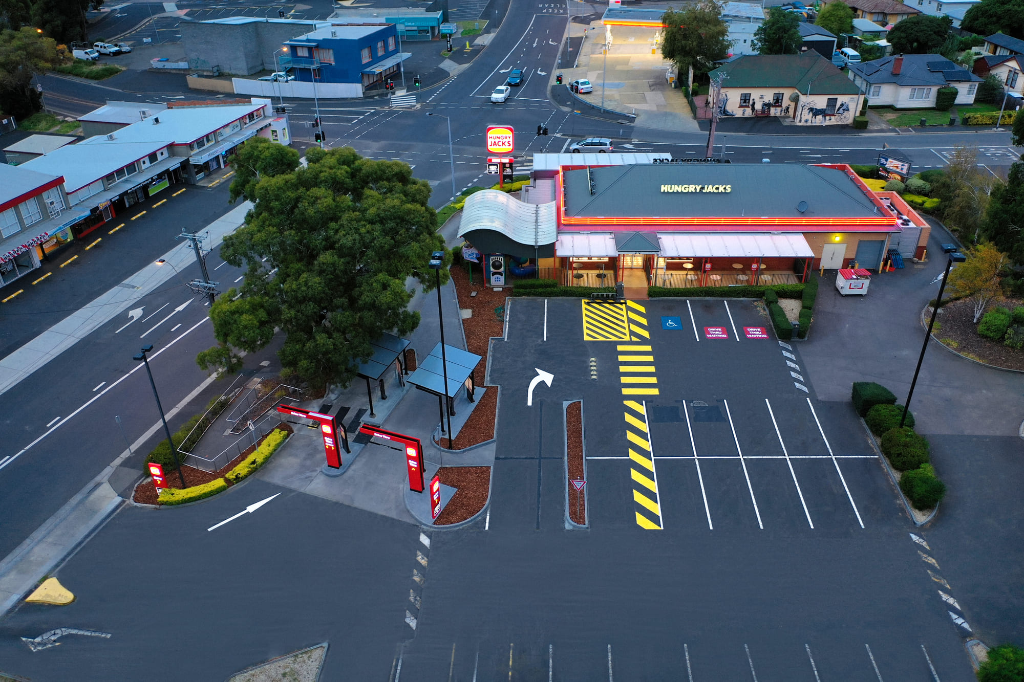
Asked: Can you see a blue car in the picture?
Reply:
Yes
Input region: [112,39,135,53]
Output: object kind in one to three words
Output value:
car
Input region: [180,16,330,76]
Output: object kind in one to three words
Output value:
building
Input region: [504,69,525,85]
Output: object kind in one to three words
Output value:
car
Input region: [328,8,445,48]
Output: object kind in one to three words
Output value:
building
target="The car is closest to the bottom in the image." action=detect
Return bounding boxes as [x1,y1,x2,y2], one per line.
[569,134,614,154]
